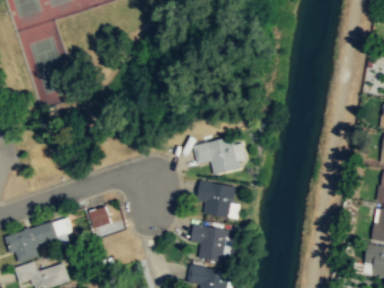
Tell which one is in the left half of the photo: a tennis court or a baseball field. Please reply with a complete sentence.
There is a tennis court in the left half of the photo.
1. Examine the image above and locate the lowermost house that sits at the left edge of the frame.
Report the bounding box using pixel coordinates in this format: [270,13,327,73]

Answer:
[15,260,70,288]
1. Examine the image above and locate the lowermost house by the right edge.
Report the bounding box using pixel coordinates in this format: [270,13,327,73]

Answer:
[364,244,384,280]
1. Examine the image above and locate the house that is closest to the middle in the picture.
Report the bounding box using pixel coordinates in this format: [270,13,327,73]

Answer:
[194,138,248,176]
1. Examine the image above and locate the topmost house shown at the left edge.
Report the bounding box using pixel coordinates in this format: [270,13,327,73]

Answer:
[5,218,74,264]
